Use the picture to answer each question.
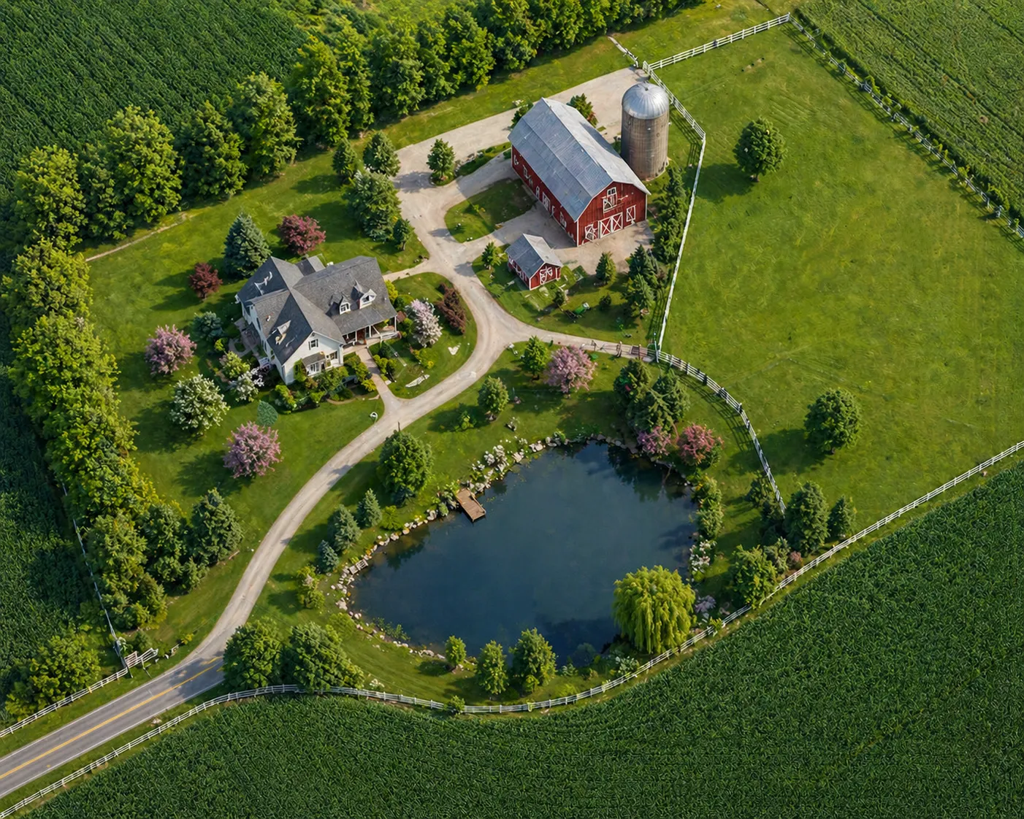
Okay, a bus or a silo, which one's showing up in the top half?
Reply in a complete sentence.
The feature located in the top half is a silo.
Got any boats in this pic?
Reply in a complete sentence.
No, there isn't any boat down there.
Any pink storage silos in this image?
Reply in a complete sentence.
No, no pink storage silo is visible in the view.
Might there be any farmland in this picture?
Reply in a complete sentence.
Yes, farmland shows up in the scene.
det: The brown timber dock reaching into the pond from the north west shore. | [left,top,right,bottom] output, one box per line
[455,489,486,524]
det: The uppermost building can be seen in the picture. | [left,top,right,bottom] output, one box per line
[502,104,656,246]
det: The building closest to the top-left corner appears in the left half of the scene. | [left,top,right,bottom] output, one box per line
[240,253,400,385]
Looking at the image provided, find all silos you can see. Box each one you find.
[621,87,672,181]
